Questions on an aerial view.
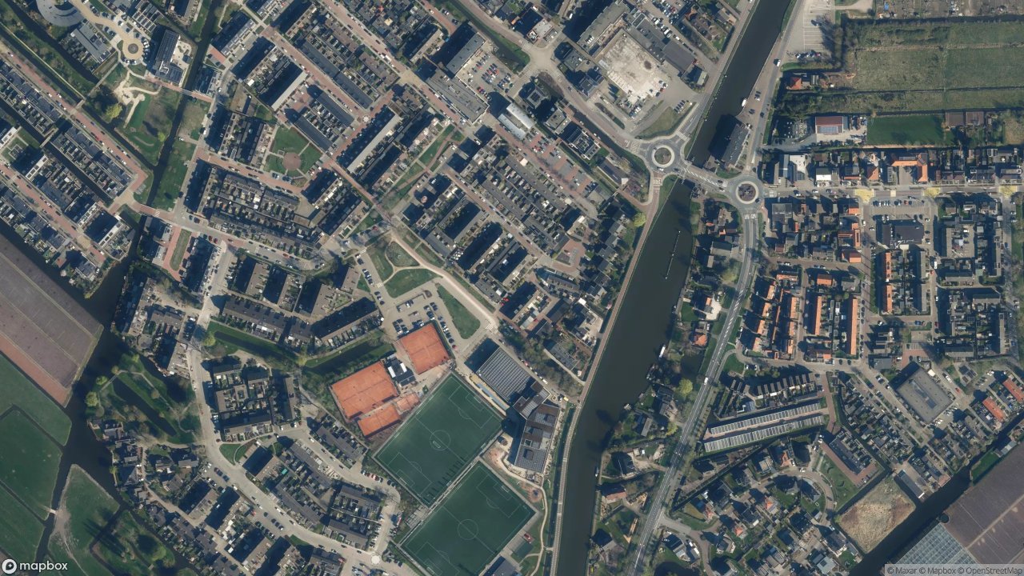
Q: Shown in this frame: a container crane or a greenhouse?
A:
greenhouse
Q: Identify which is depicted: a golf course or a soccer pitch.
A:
soccer pitch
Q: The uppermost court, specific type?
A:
tennis court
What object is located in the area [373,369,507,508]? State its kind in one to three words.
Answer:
soccer field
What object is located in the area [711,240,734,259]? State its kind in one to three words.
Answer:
house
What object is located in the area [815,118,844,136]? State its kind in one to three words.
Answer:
building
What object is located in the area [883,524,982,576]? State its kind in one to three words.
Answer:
greenhouse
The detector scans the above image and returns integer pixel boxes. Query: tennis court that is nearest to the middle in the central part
[400,323,451,374]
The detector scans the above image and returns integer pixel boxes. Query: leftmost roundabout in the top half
[645,138,681,174]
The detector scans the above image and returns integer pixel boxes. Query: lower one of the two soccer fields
[401,461,535,576]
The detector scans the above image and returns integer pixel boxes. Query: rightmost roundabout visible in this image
[729,174,765,210]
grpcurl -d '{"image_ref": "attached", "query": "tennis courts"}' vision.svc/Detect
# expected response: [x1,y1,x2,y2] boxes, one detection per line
[395,391,420,411]
[400,323,451,374]
[359,405,401,436]
[331,361,400,418]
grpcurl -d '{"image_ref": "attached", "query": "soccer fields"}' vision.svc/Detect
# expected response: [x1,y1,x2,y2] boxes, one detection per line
[373,369,507,508]
[401,461,535,576]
